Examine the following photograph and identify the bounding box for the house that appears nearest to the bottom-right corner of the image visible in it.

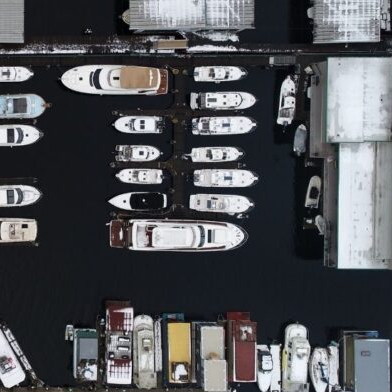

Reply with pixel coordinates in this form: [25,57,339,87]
[339,329,391,392]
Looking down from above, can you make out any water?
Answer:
Yes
